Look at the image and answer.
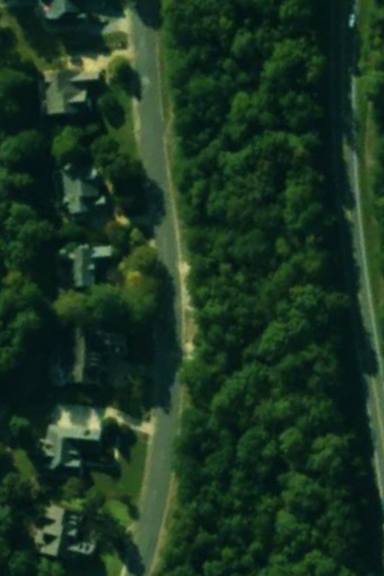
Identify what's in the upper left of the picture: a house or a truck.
house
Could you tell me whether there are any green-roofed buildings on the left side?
Yes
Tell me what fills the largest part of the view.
trees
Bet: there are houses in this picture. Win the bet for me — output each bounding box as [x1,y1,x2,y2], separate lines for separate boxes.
[67,245,112,287]
[73,329,100,385]
[32,507,96,569]
[39,425,101,471]
[37,0,88,24]
[41,69,99,114]
[60,171,106,214]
